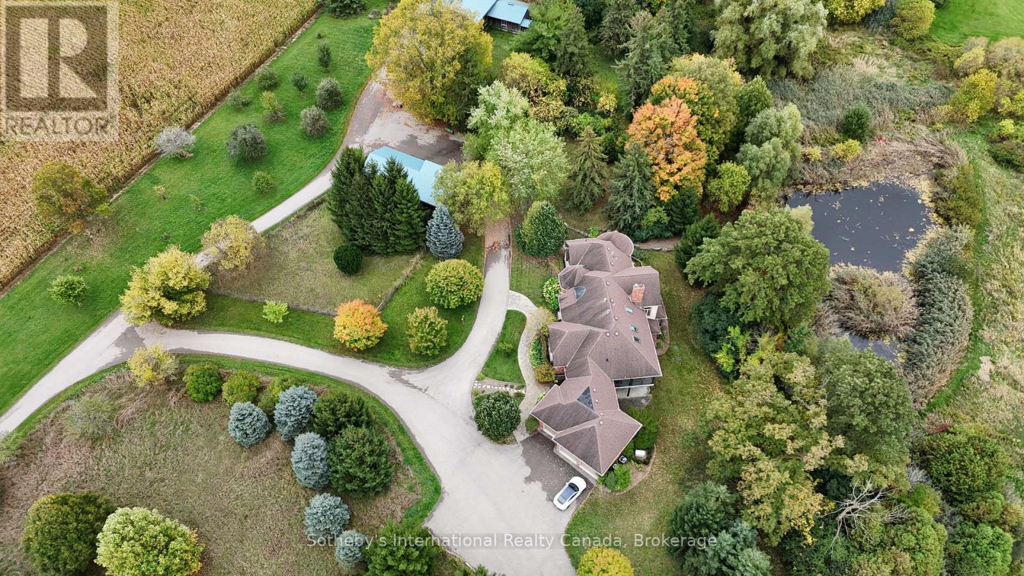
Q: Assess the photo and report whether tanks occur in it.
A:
No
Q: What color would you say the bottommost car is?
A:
white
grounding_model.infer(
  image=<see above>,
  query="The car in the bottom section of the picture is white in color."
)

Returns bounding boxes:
[552,471,589,509]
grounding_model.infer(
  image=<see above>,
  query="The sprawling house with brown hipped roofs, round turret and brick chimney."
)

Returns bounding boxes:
[530,230,668,476]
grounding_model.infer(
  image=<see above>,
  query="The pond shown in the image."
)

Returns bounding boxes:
[783,179,934,367]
